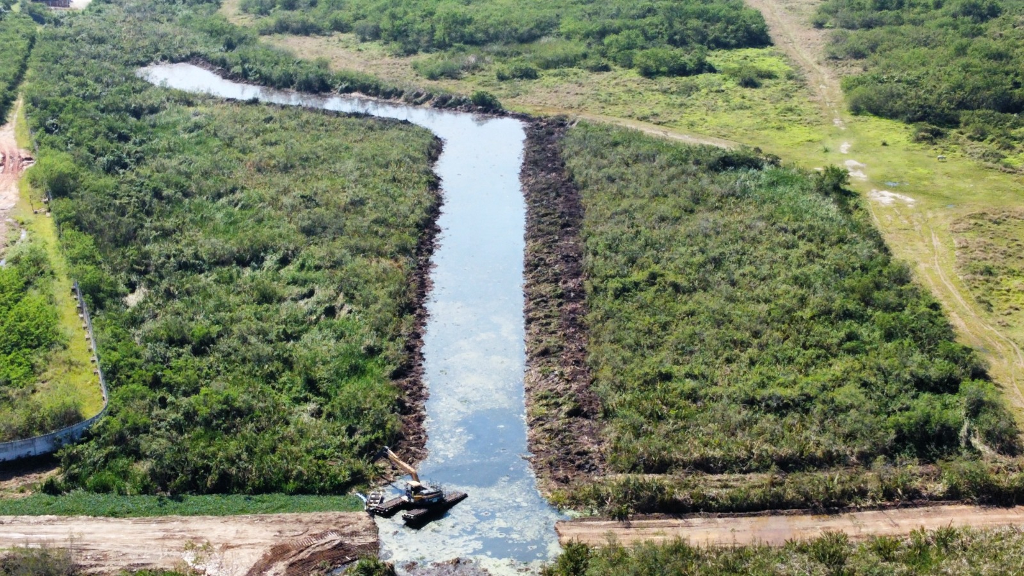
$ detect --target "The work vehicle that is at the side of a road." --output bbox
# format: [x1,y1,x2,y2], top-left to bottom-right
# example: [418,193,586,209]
[366,448,466,524]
